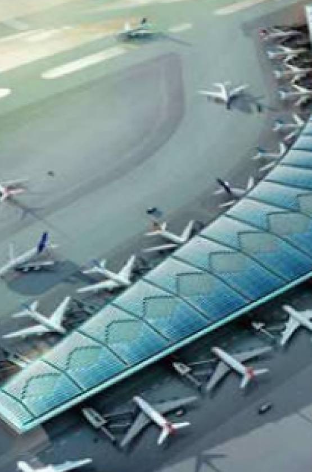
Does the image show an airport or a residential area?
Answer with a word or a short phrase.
airport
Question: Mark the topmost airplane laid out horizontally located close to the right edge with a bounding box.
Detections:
[262,25,300,41]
